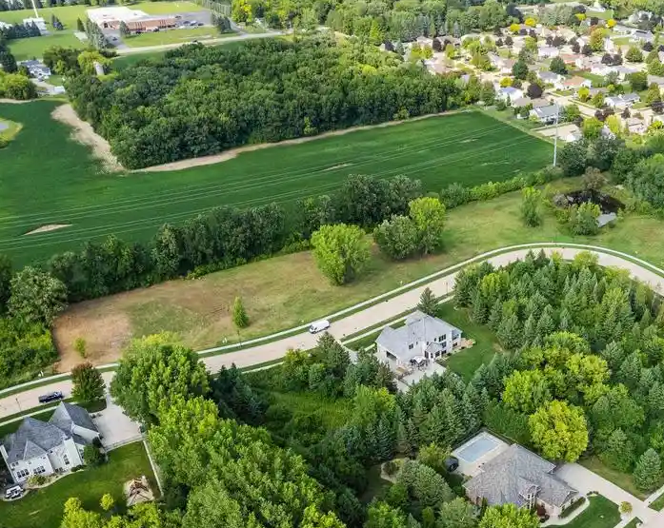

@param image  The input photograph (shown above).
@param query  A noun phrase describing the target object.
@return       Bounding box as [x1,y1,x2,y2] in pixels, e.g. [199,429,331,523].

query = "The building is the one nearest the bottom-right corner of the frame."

[459,446,580,521]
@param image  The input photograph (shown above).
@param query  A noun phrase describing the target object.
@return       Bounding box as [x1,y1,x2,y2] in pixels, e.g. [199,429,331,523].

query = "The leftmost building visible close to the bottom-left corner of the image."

[0,409,100,482]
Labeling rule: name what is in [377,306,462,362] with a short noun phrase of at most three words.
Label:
house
